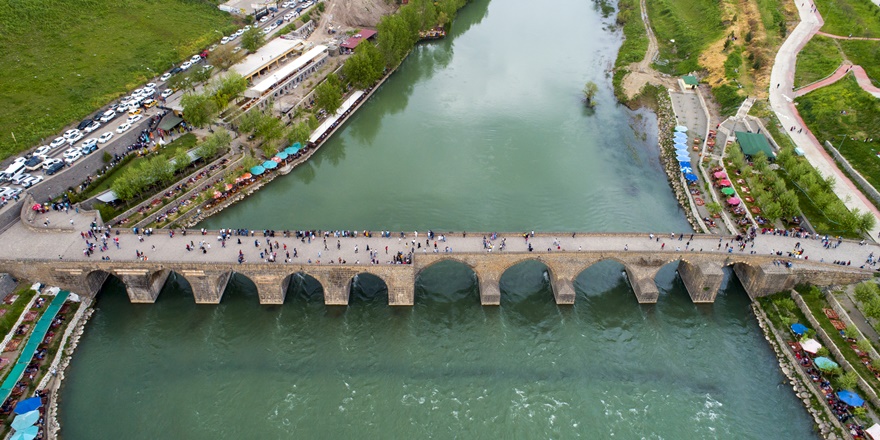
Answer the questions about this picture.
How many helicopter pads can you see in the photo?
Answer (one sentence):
The photo contains no helicopter pads.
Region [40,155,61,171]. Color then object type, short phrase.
white car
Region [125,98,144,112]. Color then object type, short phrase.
white vehicle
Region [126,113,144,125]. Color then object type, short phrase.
white vehicle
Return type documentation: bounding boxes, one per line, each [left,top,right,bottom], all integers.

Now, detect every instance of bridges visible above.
[0,229,880,304]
